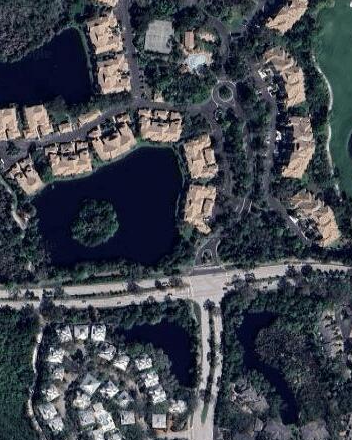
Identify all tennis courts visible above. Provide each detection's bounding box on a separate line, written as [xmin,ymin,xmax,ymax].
[147,21,160,53]
[159,21,174,53]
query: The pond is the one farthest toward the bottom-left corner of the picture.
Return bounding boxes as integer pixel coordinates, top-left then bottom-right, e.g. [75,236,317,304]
[117,323,192,390]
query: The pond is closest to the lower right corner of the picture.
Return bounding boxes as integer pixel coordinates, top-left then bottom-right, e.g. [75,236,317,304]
[238,309,297,426]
